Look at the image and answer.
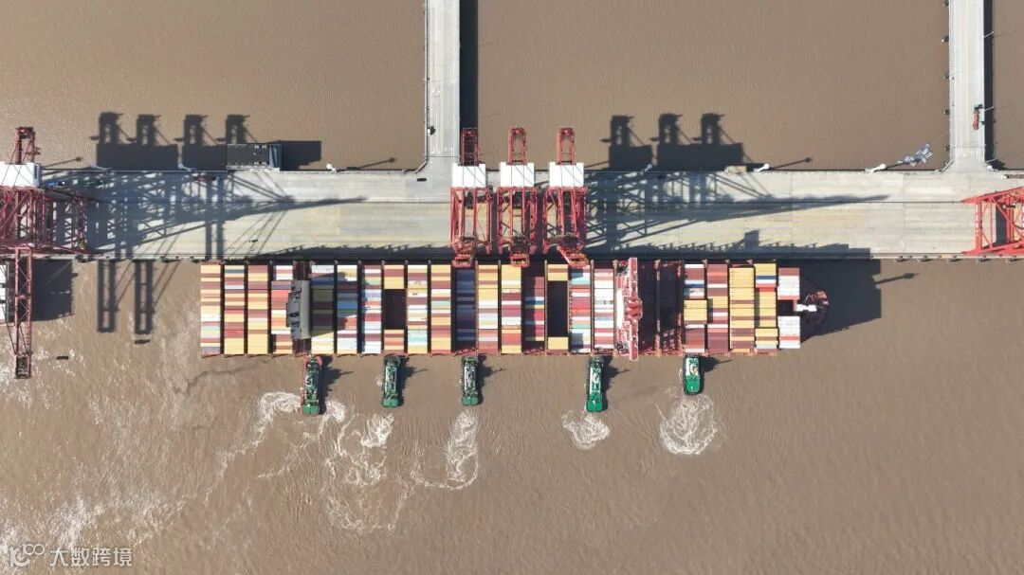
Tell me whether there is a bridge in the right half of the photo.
Yes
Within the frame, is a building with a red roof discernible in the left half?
No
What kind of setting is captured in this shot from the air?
port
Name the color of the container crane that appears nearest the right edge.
red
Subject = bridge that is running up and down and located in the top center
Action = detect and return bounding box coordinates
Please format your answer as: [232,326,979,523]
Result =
[417,0,461,171]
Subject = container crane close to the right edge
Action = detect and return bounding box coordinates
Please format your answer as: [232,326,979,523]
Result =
[958,189,1024,254]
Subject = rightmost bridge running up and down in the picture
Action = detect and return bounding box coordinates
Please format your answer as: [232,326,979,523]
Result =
[941,0,990,171]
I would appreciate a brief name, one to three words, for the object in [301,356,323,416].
boat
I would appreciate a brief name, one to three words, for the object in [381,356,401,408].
boat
